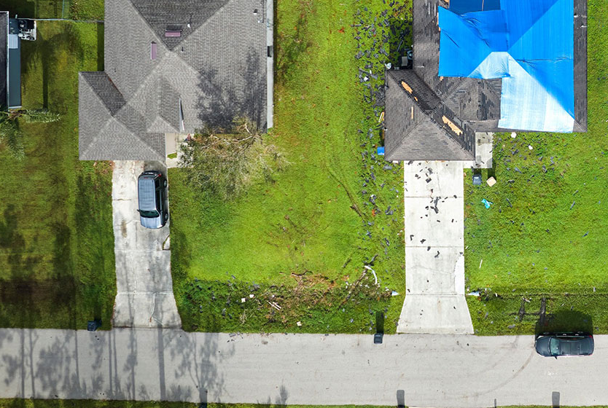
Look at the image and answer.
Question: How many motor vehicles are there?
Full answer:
There are 2 motor vehicles in the image.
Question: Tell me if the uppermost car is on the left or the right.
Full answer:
You can find the uppermost car on the left side of the picture.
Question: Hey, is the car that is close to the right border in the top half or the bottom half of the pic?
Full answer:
The bottom half of the photo is where the car that is close to the right border is.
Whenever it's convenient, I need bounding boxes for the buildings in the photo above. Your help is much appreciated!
[0,10,27,124]
[78,0,275,160]
[385,0,587,161]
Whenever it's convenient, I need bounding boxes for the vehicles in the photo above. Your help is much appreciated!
[135,170,167,227]
[535,331,593,361]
